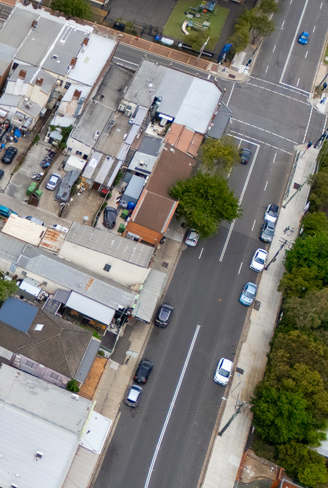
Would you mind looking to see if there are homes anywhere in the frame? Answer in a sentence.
Yes, there's a home here.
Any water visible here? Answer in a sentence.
No, there's no water in this view.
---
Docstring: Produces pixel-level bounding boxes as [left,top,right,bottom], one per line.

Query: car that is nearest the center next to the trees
[183,228,200,249]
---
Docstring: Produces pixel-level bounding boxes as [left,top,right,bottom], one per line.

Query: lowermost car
[122,383,143,410]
